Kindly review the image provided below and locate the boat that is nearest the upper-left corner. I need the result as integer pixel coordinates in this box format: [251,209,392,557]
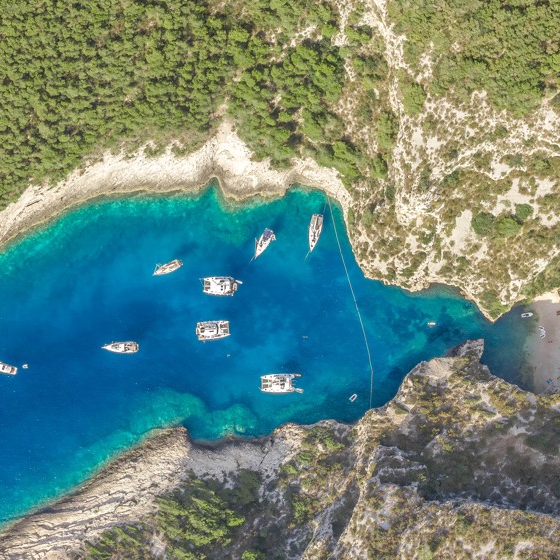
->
[155,259,184,275]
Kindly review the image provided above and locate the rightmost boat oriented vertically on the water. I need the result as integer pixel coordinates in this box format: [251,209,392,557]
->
[306,214,323,259]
